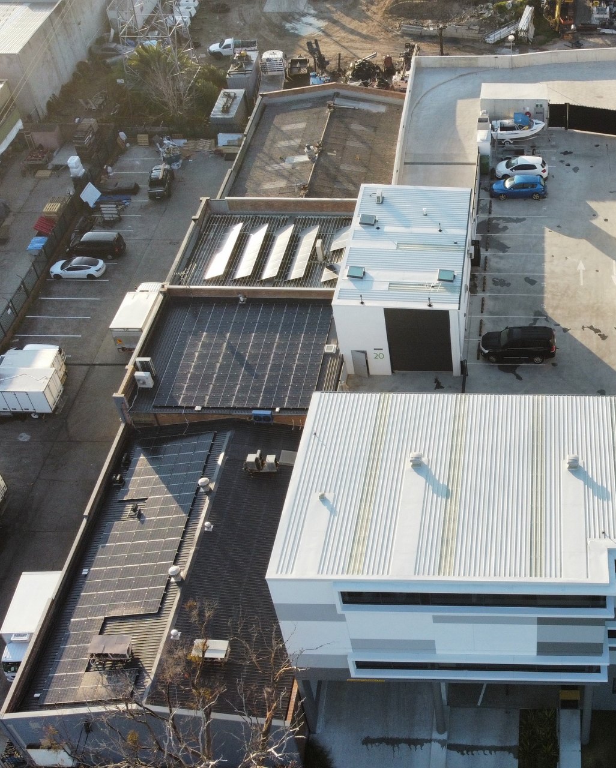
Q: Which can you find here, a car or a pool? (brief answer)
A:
car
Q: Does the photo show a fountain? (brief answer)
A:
No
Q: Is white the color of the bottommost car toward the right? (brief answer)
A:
No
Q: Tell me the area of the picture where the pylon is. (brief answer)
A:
top left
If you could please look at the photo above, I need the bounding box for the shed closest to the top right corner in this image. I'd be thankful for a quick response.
[481,81,548,130]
